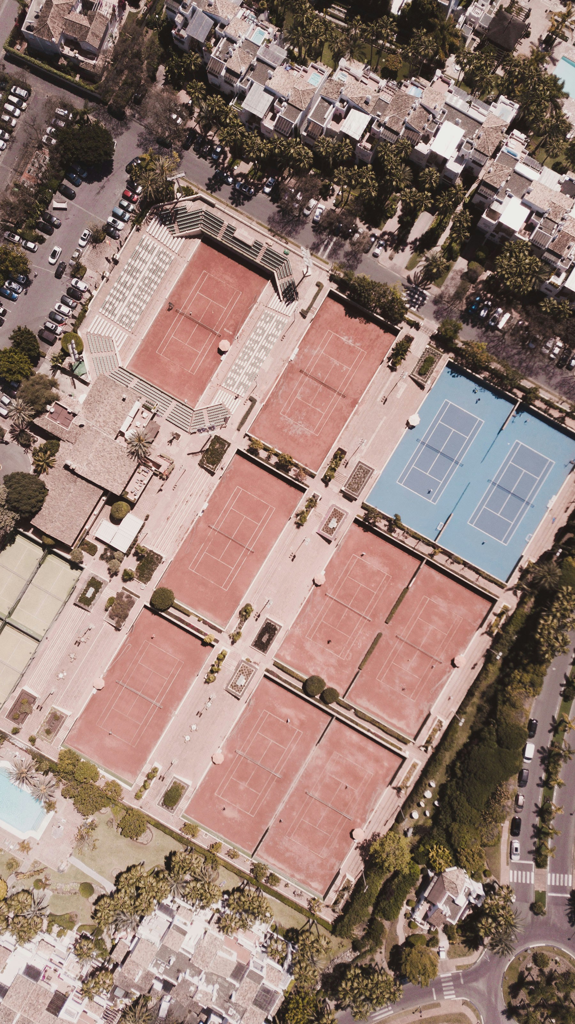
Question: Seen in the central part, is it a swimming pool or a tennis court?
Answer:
tennis court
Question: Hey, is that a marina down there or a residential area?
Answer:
residential area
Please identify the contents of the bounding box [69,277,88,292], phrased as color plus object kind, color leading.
white car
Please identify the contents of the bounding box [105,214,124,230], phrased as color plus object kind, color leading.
white car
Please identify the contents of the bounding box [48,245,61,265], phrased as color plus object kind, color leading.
white vehicle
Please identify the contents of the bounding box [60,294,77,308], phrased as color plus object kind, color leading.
gray car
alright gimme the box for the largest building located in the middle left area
[29,371,142,548]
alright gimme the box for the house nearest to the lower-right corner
[410,853,486,930]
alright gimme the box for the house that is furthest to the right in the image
[520,169,575,300]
